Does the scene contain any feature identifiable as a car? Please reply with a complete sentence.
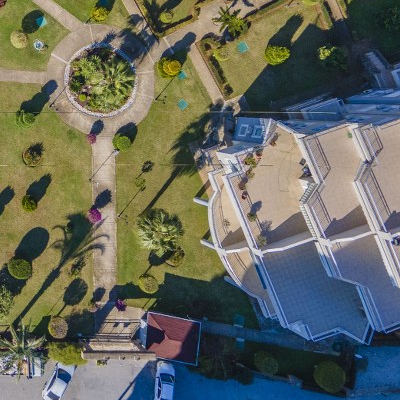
Yes, a car is visible in the scene.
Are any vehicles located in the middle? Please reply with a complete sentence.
No, no vehicle appears in the middle.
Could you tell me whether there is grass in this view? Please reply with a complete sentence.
Yes, some grass is visible.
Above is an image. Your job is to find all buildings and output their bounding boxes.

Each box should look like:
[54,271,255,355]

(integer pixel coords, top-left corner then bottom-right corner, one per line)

[199,65,400,346]
[138,309,202,366]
